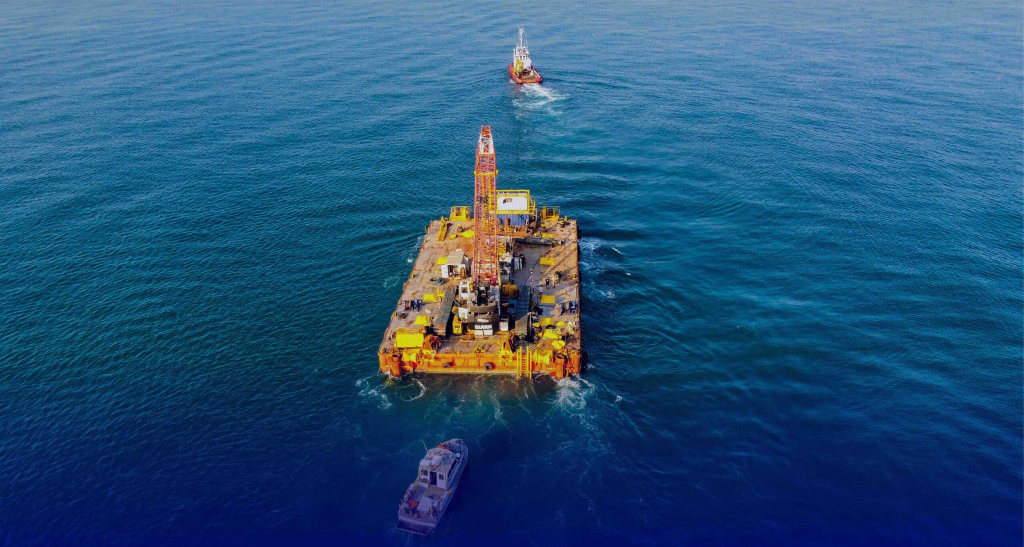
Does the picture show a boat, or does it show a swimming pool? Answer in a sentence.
Of the two, only a boat appears.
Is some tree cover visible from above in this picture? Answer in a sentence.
No, there is no tree cover in the image.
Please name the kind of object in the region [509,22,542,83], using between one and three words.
boat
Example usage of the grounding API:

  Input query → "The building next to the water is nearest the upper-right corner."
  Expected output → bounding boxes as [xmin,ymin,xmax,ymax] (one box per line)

[488,184,538,218]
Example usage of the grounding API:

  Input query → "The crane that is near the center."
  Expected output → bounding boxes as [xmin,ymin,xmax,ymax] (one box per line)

[433,123,531,340]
